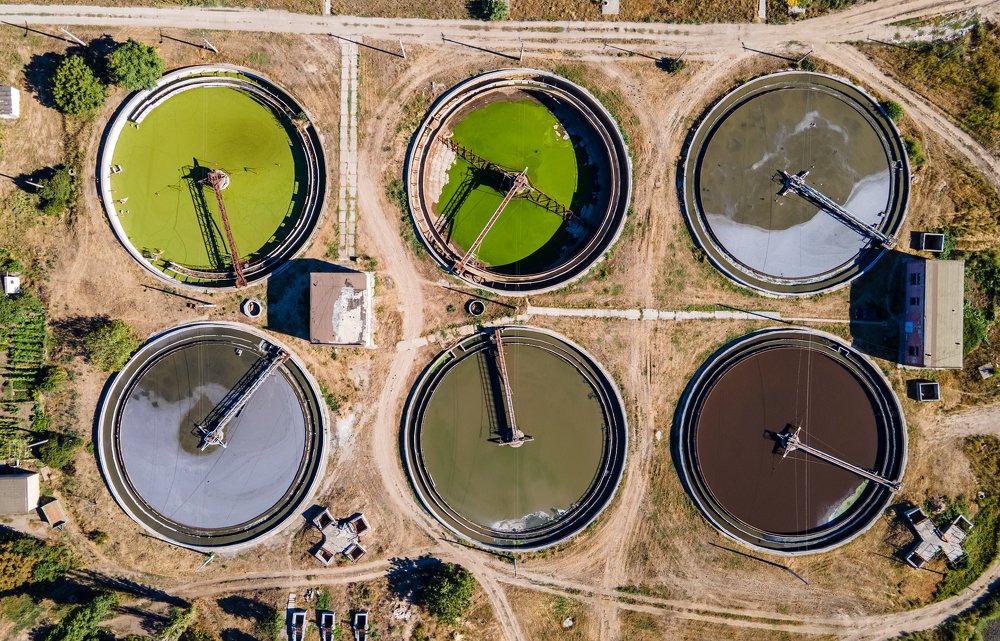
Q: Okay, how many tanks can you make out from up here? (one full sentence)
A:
Looking from above, you can make out 6 tanks.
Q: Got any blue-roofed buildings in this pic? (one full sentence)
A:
No, there appears to be no blue-roofed building in this shot.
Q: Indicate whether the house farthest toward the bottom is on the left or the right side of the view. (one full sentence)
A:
The house farthest toward the bottom sits on the left side.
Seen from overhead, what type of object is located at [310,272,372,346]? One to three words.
building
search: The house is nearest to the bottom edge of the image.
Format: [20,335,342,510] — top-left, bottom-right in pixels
[0,473,40,514]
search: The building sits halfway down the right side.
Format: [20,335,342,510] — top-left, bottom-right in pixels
[905,260,964,368]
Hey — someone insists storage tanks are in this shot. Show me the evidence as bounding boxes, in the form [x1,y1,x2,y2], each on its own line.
[407,67,632,292]
[683,70,909,296]
[101,65,327,291]
[100,323,327,550]
[404,327,628,552]
[680,329,906,555]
